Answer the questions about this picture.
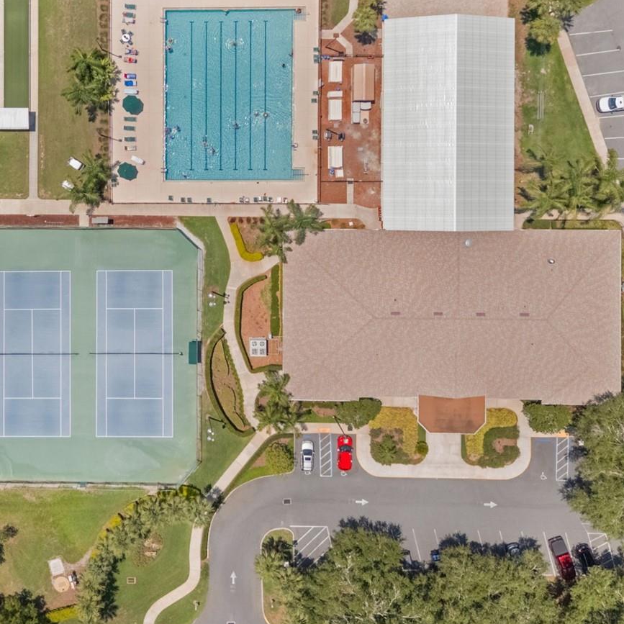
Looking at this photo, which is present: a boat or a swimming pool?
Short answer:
swimming pool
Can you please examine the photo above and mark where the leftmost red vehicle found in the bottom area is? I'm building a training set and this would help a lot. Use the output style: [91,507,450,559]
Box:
[337,437,354,472]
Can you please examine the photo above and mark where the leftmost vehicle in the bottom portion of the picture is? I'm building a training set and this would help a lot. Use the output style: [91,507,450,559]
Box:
[301,440,317,474]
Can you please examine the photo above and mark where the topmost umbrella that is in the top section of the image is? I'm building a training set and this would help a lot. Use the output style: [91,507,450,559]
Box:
[123,94,144,116]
